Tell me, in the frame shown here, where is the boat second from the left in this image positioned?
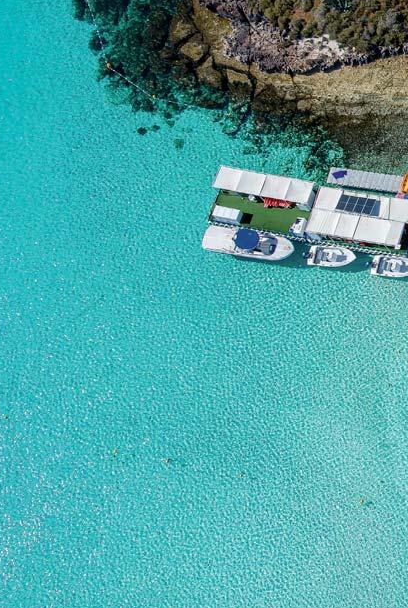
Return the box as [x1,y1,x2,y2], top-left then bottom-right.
[305,244,356,268]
